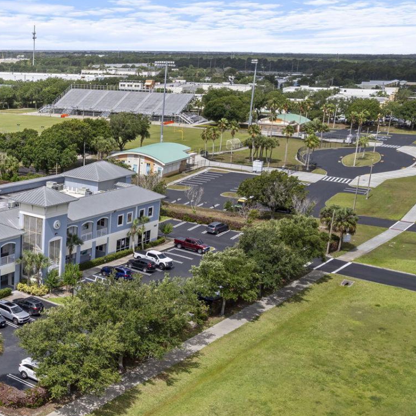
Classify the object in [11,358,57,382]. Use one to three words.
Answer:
car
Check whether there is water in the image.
No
